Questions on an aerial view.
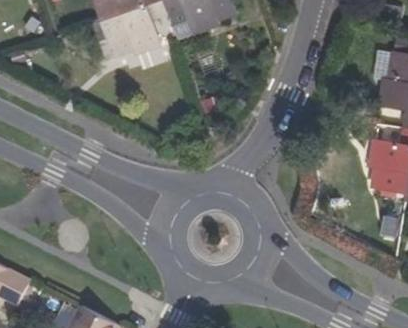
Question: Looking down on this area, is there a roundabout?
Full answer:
Yes, looking at the shot, I can spot a roundabout.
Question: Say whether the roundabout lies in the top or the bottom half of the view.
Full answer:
Seen from above, the roundabout lies in the bottom half of the view.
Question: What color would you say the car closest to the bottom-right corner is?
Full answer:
From above, the car closest to the bottom-right corner appears blue.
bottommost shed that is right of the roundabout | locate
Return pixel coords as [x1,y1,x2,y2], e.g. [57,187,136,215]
[380,218,398,242]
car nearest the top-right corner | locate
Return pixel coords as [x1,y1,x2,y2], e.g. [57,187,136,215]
[306,39,320,64]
